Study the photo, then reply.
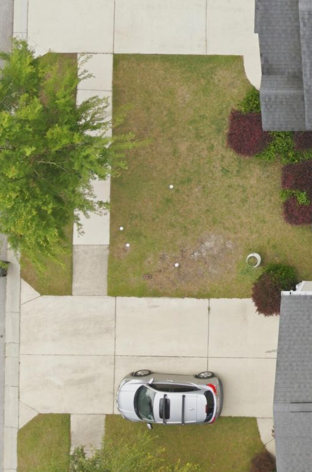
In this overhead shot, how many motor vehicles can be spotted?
1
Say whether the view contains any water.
No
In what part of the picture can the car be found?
bottom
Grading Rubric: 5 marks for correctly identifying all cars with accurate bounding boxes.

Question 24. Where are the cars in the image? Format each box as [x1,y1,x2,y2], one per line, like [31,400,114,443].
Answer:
[117,371,226,431]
